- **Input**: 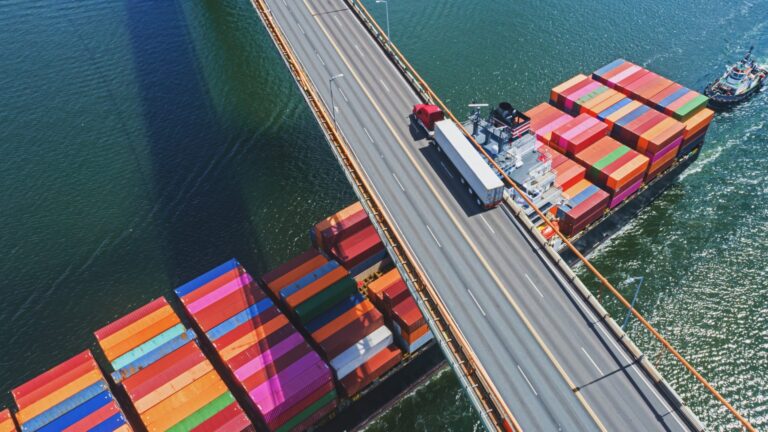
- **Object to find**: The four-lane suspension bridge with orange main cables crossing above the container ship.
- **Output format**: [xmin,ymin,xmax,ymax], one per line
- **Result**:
[249,0,758,432]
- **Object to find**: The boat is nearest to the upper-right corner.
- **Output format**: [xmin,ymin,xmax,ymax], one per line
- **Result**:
[704,44,768,104]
